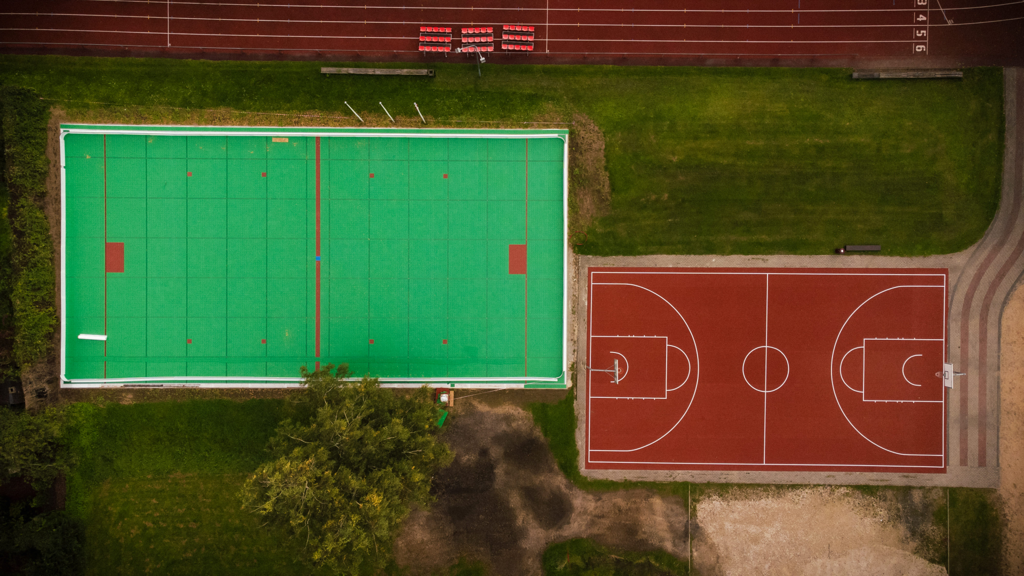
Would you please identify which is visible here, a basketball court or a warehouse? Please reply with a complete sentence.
The image shows a basketball court.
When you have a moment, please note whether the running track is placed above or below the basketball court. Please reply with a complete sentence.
In the image, the running track sits above the basketball court.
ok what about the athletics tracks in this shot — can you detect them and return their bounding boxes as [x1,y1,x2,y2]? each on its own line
[0,0,1024,69]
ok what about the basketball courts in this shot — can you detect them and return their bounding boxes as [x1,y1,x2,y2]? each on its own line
[585,268,949,473]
